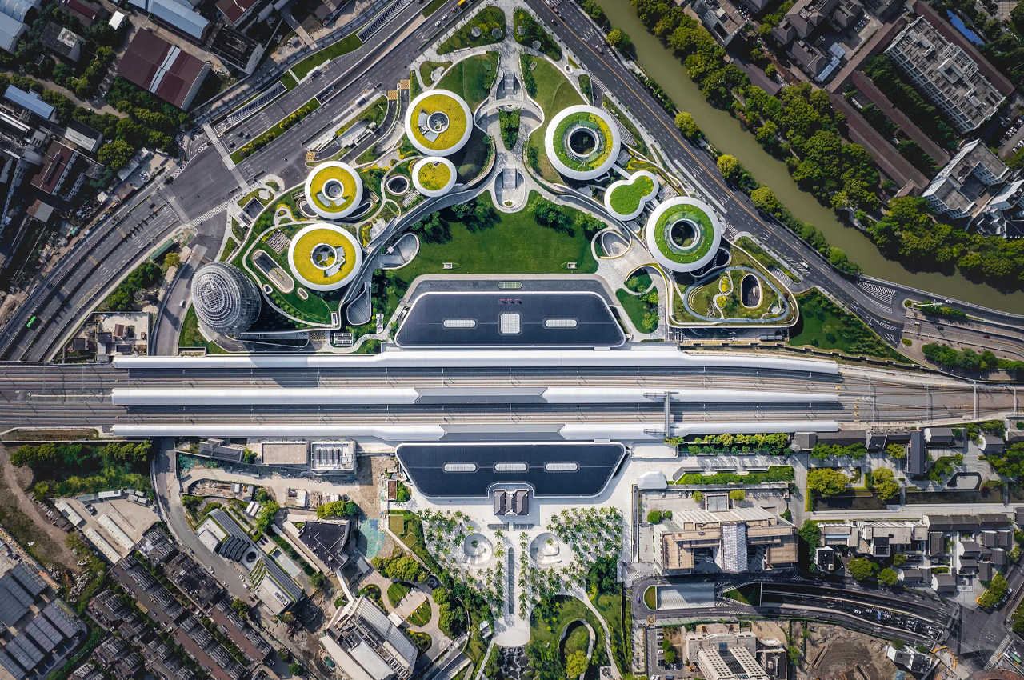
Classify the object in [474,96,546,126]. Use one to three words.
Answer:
bridge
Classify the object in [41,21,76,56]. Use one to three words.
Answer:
house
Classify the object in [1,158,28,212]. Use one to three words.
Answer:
building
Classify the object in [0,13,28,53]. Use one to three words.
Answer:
shed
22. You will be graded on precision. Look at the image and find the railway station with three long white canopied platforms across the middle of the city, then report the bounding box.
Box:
[111,350,840,441]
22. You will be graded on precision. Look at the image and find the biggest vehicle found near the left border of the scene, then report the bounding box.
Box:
[24,314,40,330]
